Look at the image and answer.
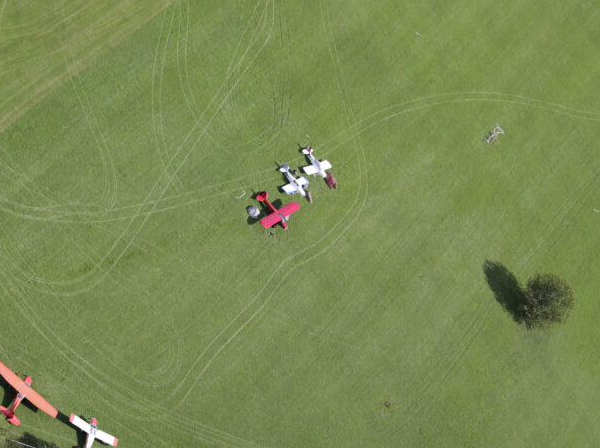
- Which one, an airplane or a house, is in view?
airplane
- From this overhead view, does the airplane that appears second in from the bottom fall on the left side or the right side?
left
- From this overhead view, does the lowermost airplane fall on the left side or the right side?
left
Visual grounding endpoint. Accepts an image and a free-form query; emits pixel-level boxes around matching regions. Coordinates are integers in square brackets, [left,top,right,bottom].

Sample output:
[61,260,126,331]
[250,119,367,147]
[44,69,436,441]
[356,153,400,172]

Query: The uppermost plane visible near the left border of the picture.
[0,361,59,423]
